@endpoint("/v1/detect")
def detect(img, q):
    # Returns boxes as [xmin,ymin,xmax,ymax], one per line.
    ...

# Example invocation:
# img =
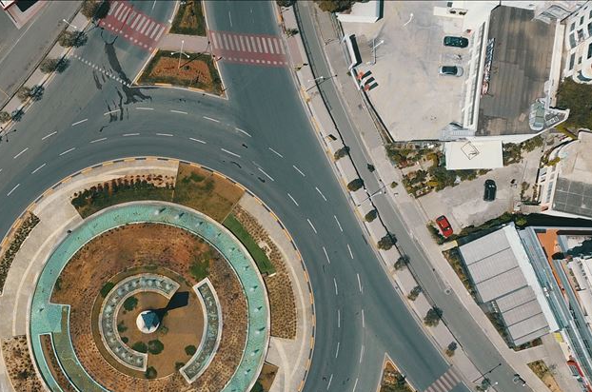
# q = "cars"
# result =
[444,35,469,46]
[440,62,465,76]
[485,178,499,201]
[436,213,455,239]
